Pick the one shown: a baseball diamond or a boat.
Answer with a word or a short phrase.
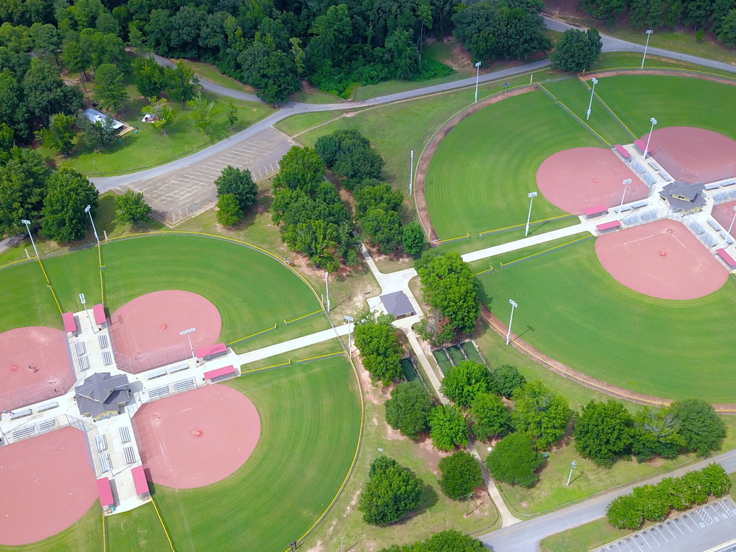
baseball diamond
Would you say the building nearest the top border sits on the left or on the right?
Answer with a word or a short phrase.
left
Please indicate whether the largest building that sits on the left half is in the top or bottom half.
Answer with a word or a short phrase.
bottom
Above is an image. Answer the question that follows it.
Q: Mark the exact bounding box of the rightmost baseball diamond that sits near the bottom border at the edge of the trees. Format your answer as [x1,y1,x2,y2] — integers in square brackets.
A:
[129,352,365,552]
